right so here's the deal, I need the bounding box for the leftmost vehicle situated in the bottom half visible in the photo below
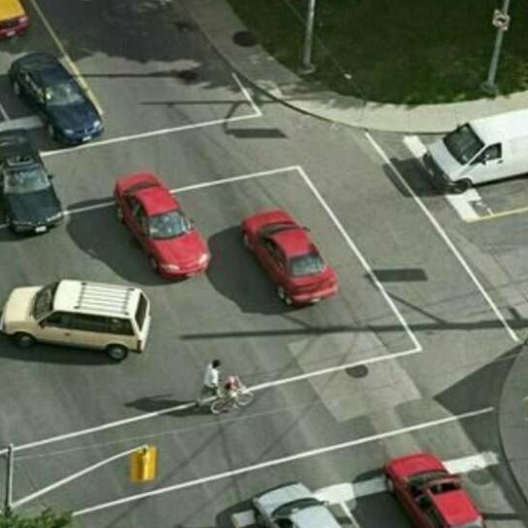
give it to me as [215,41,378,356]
[0,277,154,360]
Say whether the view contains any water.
No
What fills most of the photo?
paved ground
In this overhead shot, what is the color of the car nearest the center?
red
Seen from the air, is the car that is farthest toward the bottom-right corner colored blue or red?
red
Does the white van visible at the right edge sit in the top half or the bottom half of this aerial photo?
top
